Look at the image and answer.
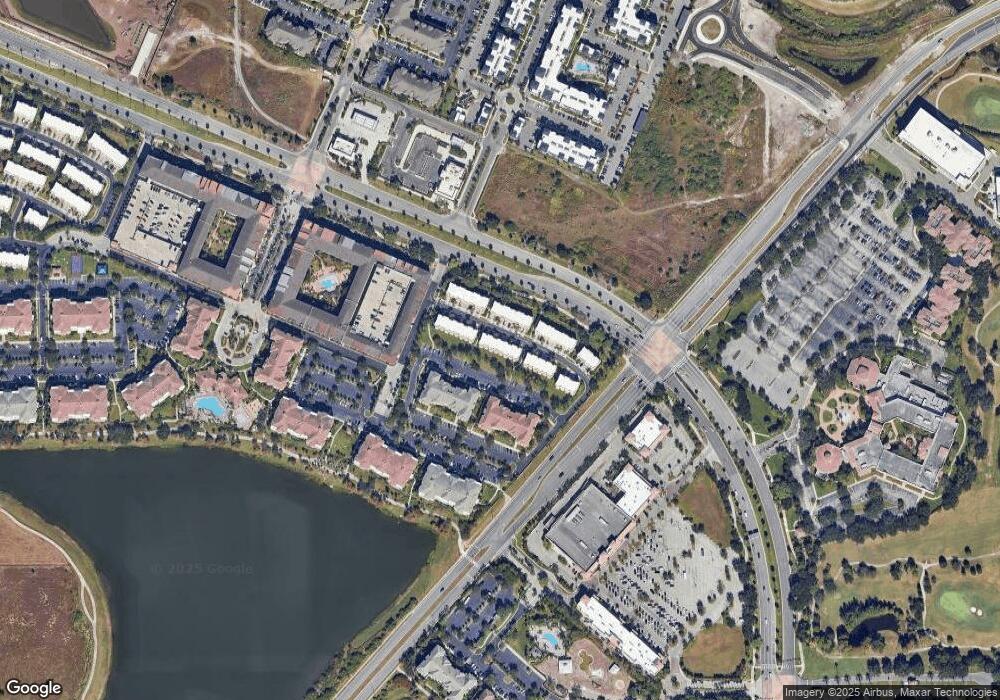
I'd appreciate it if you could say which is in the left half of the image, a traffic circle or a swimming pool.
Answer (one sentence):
Looking in the left half of the image, you will find a swimming pool.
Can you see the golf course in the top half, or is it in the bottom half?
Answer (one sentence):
The golf course is in the bottom half of the image.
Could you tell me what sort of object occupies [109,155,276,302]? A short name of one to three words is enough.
building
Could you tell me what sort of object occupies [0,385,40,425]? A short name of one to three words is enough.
building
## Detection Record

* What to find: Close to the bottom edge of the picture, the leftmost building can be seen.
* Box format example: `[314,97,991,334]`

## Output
[416,646,478,700]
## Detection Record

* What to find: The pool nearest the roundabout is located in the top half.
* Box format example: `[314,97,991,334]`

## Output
[569,57,602,77]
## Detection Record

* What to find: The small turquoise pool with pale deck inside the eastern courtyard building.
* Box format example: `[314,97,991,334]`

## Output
[312,273,340,295]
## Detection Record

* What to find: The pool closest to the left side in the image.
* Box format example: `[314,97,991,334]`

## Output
[186,391,240,430]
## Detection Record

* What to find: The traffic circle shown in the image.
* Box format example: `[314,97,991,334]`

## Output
[687,7,734,54]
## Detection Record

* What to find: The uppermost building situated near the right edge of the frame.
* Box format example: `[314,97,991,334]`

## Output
[897,107,984,185]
